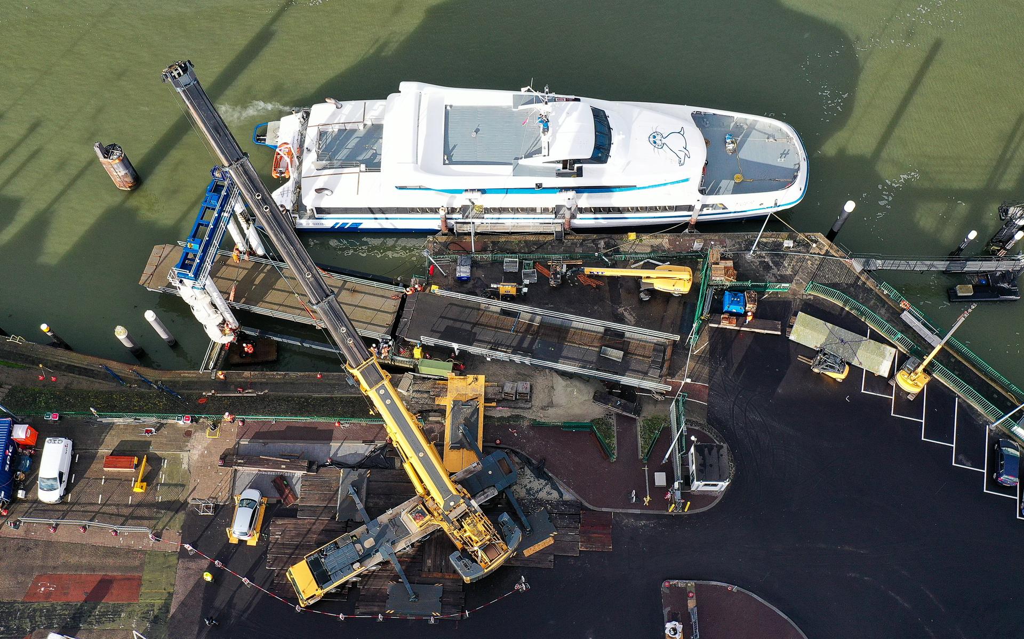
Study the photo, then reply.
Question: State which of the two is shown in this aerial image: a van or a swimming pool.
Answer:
van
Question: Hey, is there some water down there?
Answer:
Yes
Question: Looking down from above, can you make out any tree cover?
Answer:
No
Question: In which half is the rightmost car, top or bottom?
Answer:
bottom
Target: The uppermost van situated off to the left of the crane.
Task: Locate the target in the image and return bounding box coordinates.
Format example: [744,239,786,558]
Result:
[29,431,71,504]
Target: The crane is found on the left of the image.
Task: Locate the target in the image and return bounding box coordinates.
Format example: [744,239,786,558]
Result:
[156,55,547,618]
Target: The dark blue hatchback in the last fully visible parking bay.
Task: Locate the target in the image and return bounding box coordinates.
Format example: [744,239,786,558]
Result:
[995,435,1024,492]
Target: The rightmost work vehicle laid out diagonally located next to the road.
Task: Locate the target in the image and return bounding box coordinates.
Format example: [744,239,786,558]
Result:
[897,306,977,397]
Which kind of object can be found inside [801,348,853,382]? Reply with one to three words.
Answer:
work vehicle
